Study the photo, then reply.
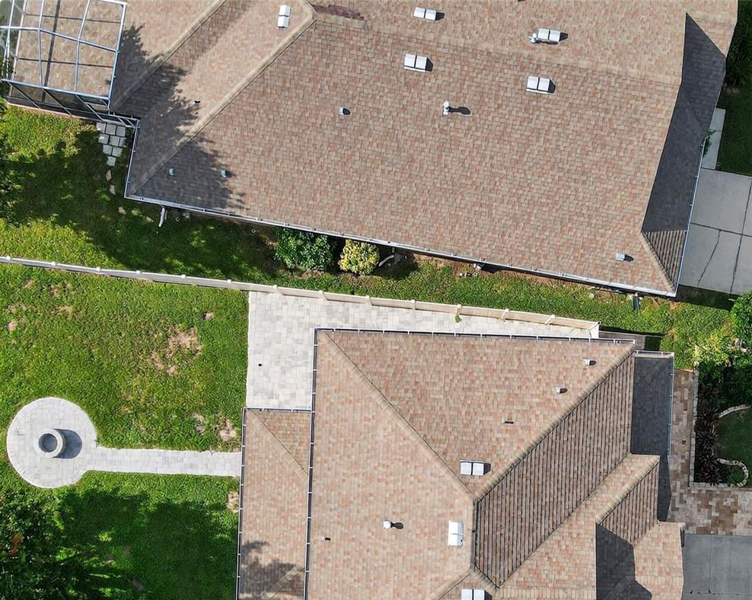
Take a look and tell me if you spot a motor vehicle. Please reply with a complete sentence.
No, there's no motor vehicle here.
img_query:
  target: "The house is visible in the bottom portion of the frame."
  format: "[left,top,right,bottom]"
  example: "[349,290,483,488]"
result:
[233,325,687,600]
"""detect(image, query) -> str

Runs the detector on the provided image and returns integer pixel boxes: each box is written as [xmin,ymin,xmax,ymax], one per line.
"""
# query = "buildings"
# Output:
[233,325,687,600]
[108,0,742,300]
